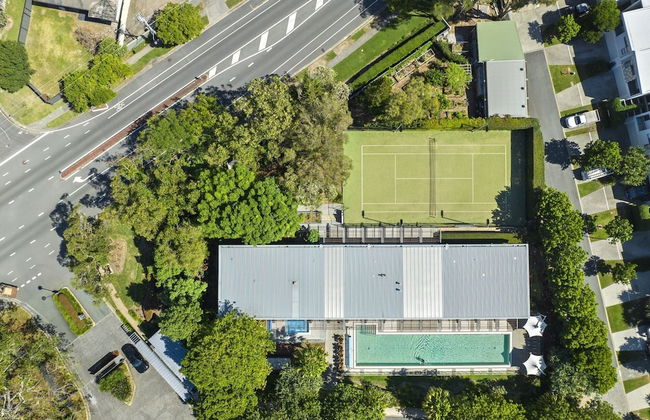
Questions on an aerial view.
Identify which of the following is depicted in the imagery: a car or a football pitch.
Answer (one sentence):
I can see a car in this picture.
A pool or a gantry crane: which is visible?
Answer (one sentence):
This aerial view contains a pool.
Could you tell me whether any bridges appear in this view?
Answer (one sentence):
No, I can see no bridge in this picture.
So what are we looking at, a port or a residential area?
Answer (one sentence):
It's a residential area.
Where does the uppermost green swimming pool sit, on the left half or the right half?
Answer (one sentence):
You can find the uppermost green swimming pool on the right side of the picture.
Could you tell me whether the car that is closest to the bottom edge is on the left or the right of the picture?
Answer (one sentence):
The car that is closest to the bottom edge is on the left side of the image.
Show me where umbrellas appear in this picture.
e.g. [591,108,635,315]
[522,312,547,338]
[523,353,547,379]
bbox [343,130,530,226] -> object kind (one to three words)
tennis court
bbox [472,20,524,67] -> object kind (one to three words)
shed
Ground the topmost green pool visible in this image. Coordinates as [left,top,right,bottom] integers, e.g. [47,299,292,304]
[352,322,514,369]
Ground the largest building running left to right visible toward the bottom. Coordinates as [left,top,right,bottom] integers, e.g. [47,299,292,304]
[218,243,530,320]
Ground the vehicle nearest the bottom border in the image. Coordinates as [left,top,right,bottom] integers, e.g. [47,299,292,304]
[120,343,147,373]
